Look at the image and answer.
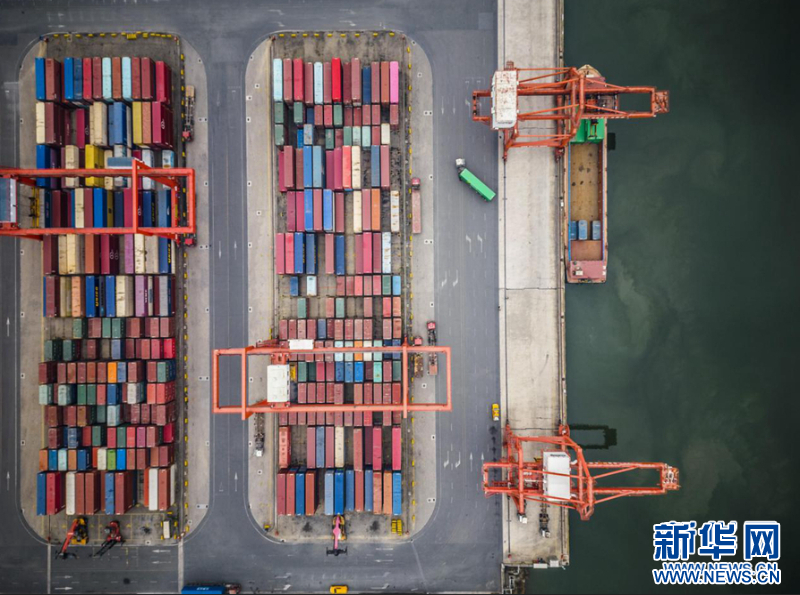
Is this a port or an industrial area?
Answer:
port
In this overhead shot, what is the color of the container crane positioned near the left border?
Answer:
red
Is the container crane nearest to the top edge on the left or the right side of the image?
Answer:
right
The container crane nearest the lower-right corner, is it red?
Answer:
Yes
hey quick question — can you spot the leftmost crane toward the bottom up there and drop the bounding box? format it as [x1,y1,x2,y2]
[212,329,452,422]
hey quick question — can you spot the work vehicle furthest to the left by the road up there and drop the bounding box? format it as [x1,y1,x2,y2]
[55,515,88,557]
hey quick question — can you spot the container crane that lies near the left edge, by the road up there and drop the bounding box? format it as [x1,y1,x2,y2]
[0,157,196,254]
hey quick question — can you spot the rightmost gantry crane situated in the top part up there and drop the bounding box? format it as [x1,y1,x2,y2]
[471,53,665,166]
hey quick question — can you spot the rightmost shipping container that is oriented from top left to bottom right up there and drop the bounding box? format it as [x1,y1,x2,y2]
[459,169,495,201]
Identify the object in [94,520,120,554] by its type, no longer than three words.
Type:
work vehicle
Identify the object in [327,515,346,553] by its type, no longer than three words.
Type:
work vehicle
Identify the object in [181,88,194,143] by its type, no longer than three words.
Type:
vehicle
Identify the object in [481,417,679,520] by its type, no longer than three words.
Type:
container crane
